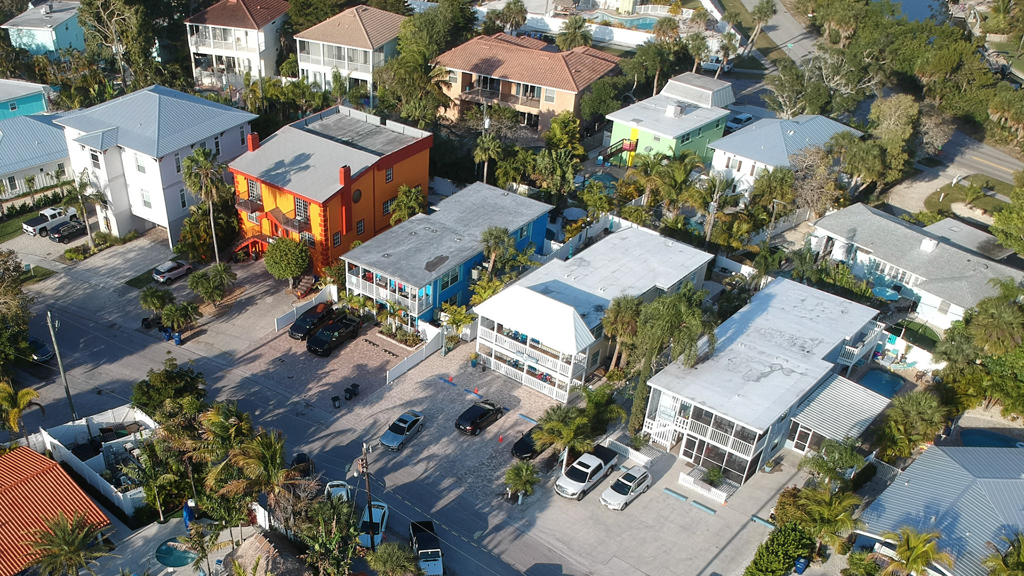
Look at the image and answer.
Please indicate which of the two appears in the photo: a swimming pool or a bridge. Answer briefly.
swimming pool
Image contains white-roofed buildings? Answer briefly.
Yes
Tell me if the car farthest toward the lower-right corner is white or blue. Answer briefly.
white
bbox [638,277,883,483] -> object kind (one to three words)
house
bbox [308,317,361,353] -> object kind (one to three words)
truck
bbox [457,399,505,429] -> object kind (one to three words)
car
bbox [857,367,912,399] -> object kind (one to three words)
swimming pool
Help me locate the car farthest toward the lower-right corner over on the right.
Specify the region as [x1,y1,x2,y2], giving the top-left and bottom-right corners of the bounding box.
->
[606,464,653,507]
